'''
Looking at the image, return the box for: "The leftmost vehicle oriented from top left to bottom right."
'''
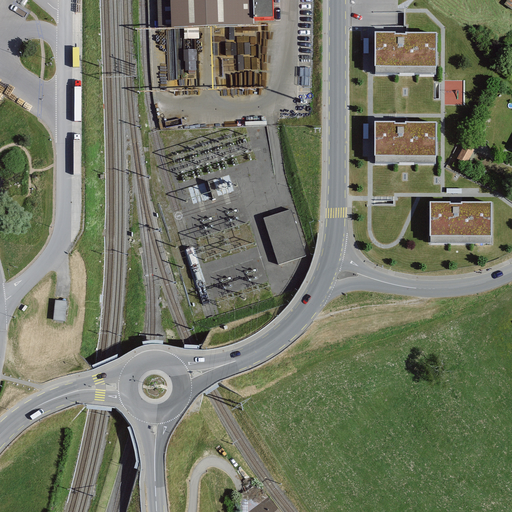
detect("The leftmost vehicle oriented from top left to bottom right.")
[10,4,28,18]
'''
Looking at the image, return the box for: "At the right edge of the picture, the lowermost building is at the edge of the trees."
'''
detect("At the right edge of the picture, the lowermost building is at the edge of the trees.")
[430,201,494,246]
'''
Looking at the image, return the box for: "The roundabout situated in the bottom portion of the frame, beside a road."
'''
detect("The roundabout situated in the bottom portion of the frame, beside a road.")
[78,348,214,434]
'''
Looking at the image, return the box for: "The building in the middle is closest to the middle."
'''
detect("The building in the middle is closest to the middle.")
[264,210,306,264]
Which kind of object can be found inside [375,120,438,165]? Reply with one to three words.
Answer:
building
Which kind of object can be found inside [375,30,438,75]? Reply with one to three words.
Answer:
building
